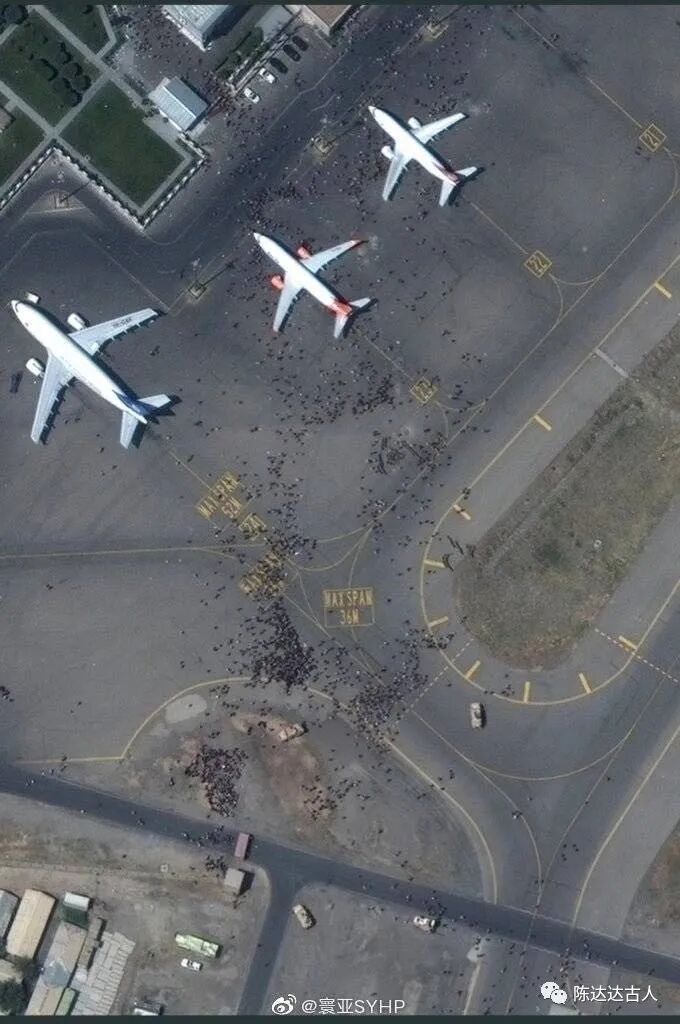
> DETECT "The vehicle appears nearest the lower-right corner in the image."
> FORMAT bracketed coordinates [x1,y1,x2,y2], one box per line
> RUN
[412,916,437,931]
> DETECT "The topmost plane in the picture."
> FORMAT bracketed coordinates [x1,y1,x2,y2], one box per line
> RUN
[368,106,480,207]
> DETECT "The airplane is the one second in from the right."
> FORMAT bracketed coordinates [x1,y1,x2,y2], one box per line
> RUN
[254,234,372,337]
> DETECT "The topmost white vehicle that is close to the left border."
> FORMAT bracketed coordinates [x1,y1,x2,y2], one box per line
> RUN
[23,292,40,305]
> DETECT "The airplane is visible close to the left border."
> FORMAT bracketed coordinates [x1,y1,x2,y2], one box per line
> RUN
[12,300,170,449]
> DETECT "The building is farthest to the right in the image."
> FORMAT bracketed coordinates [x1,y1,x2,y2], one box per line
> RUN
[305,0,365,35]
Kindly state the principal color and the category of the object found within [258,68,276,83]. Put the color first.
white car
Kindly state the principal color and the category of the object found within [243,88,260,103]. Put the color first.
white car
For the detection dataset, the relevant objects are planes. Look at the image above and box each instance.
[254,234,372,337]
[368,106,480,207]
[12,300,170,449]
